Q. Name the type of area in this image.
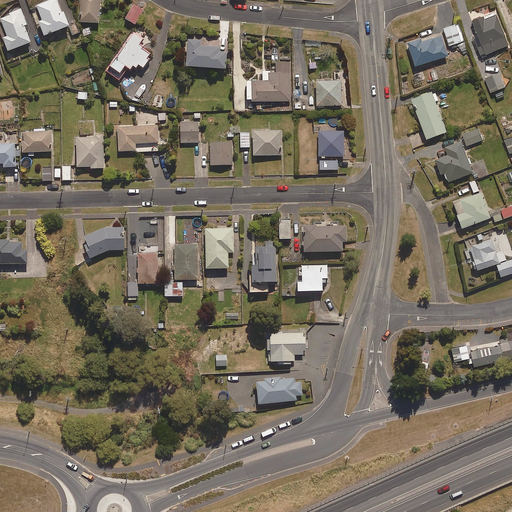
residential area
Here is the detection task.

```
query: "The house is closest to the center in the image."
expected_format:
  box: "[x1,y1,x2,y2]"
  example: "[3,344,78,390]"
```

[252,239,278,282]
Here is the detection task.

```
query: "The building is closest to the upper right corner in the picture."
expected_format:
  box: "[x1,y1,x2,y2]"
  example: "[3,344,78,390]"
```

[470,12,508,56]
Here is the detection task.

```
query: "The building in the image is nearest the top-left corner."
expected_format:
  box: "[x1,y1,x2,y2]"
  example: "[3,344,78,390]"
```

[0,9,30,48]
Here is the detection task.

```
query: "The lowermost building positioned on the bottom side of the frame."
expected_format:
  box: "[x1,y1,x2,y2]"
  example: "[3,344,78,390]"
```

[256,376,304,406]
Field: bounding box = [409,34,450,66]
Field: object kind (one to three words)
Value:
house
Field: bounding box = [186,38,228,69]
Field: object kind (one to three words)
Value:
house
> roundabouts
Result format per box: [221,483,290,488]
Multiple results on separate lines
[80,476,150,512]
